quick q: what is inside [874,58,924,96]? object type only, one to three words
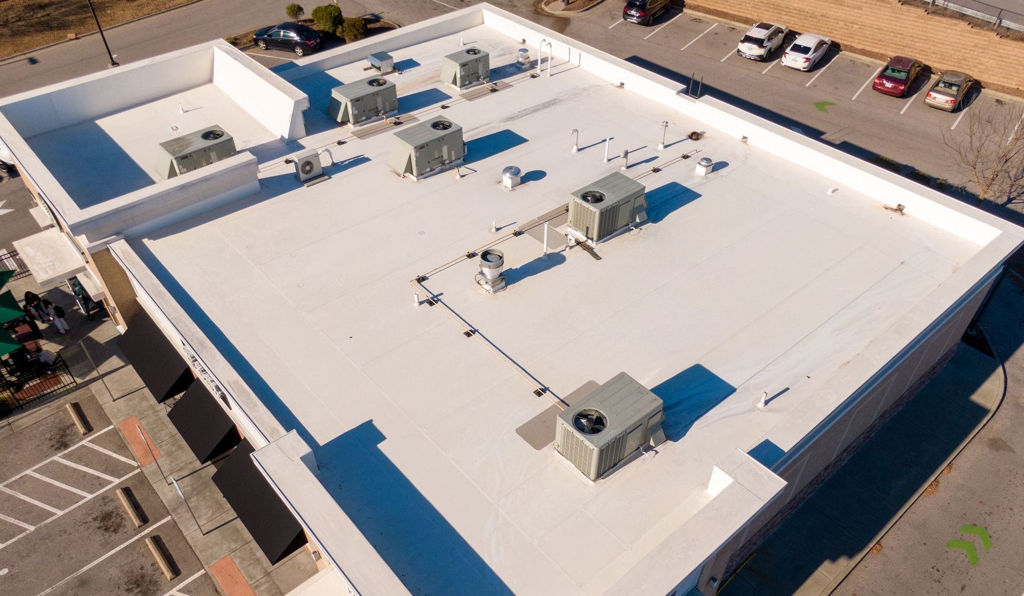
car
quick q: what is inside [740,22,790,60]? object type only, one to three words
car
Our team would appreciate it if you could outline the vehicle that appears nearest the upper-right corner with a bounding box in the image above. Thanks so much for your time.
[925,73,976,111]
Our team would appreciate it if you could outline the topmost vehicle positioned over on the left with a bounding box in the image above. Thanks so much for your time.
[252,24,324,56]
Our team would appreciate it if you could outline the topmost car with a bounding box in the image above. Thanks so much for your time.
[626,0,677,25]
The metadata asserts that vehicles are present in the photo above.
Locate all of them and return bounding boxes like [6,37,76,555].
[925,73,976,111]
[626,0,677,25]
[740,22,790,60]
[252,24,324,56]
[784,37,833,71]
[874,58,924,96]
